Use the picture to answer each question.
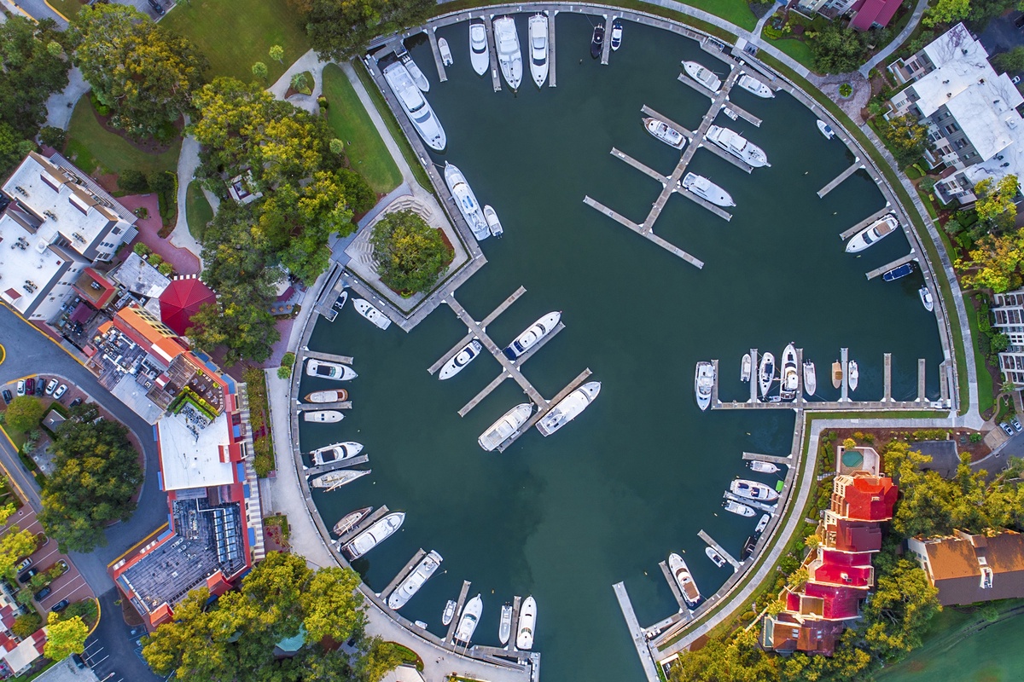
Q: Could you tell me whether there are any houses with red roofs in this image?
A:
Yes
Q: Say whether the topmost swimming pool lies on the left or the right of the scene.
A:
right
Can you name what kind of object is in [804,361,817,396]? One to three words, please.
boat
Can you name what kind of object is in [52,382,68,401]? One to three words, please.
car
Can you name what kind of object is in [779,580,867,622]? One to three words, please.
house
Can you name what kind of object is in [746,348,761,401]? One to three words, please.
pier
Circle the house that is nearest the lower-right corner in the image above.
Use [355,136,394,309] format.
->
[903,528,1024,606]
